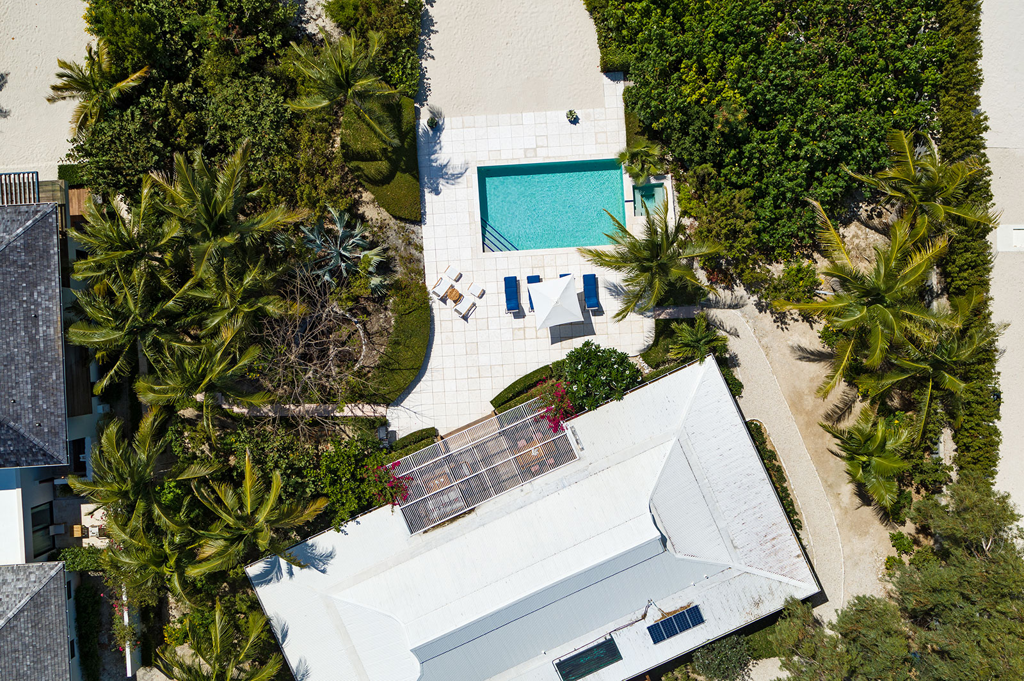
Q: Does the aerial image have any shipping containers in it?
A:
No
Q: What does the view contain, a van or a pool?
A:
pool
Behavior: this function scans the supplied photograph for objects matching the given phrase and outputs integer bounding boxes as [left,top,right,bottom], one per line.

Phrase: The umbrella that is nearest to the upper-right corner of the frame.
[528,274,584,330]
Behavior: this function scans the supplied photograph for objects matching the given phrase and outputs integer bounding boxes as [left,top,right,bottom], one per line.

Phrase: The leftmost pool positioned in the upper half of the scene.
[470,151,636,260]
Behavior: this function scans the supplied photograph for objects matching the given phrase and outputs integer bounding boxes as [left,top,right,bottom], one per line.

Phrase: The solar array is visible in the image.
[647,603,706,644]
